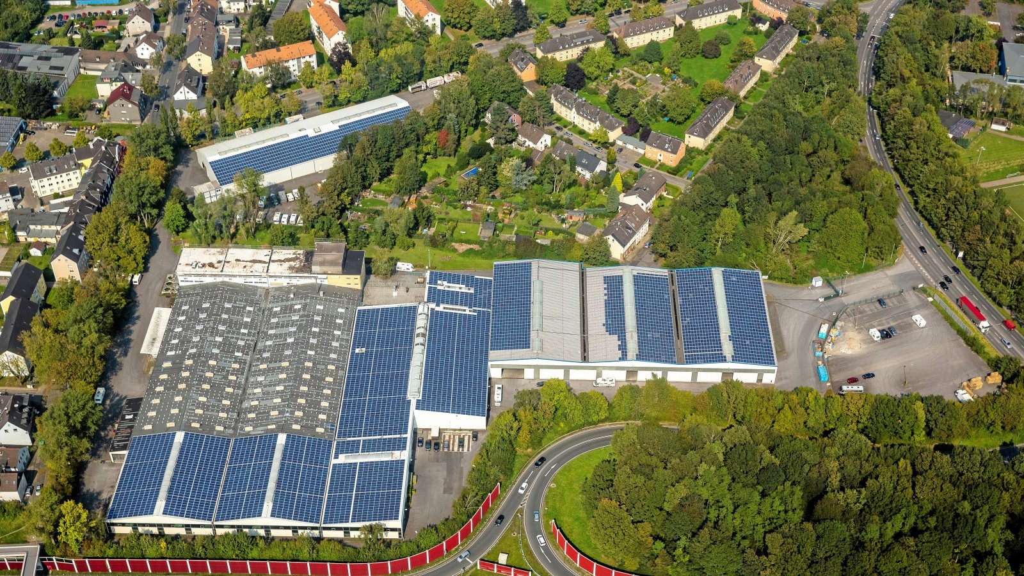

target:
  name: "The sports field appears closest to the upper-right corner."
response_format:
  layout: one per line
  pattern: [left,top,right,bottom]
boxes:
[955,128,1024,182]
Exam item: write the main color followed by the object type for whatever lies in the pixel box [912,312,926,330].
white camper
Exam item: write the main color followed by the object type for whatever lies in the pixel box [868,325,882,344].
white camper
